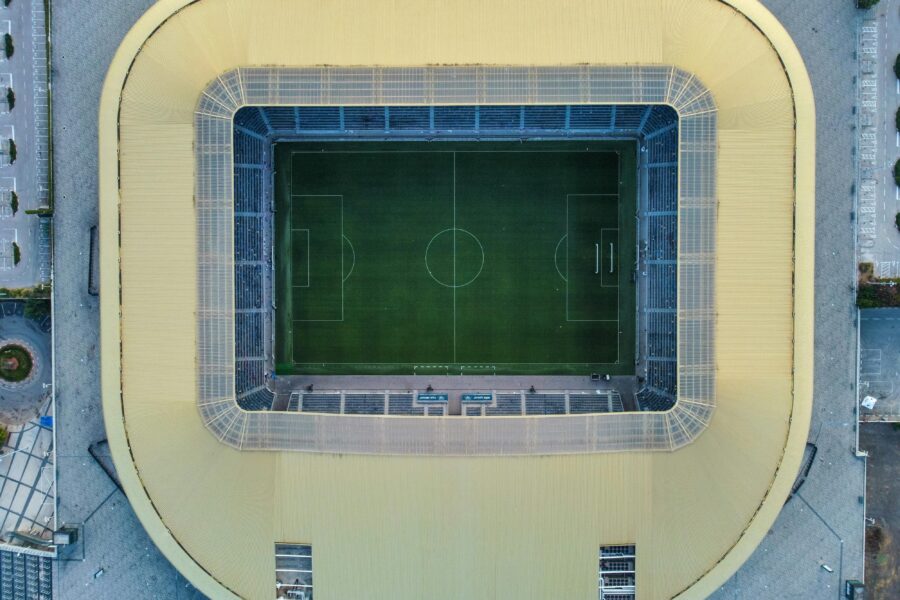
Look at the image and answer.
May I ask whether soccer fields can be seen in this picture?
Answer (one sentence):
Yes, the picture does show a soccer field.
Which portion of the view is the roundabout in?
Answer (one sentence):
The roundabout is located in the left region of the scene.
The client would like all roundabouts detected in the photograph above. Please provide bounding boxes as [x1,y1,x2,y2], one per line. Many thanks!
[0,327,49,400]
